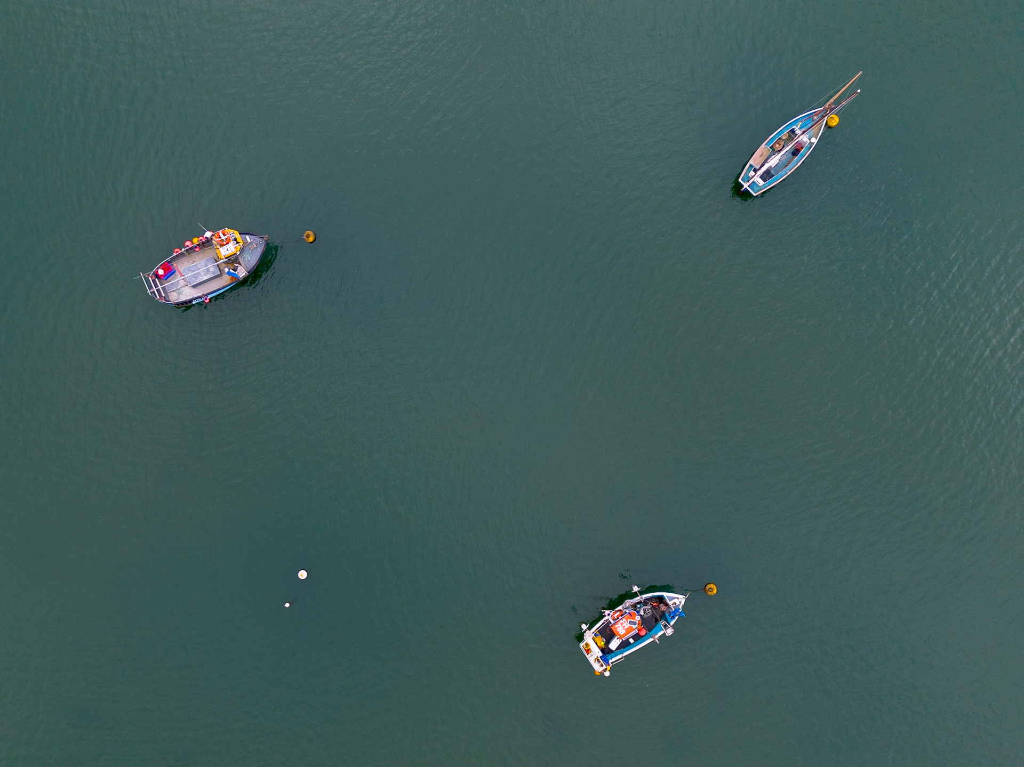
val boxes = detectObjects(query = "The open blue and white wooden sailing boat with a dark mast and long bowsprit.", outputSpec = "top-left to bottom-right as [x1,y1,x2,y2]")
[738,71,863,196]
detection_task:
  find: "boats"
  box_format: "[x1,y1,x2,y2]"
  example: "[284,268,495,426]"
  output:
[738,71,863,196]
[140,223,270,305]
[579,585,691,671]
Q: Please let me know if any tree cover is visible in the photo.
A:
No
